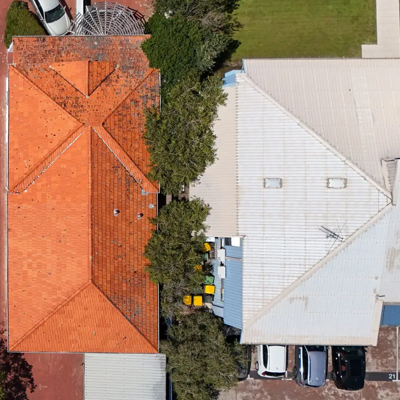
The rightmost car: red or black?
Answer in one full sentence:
From above, the rightmost car appears black.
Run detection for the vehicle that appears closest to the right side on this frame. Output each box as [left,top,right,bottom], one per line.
[332,347,367,392]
